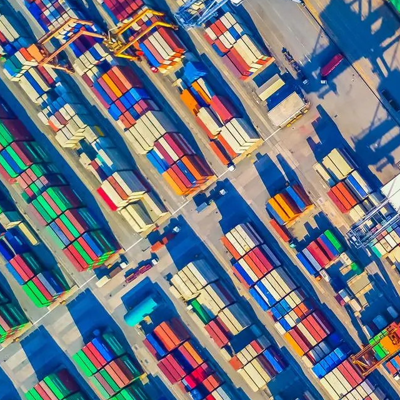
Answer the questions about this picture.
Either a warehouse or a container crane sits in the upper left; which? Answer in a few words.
container crane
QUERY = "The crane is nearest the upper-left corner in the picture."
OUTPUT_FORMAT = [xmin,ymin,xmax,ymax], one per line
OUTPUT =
[25,13,109,72]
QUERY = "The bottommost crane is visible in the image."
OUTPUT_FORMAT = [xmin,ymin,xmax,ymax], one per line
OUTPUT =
[351,319,400,375]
